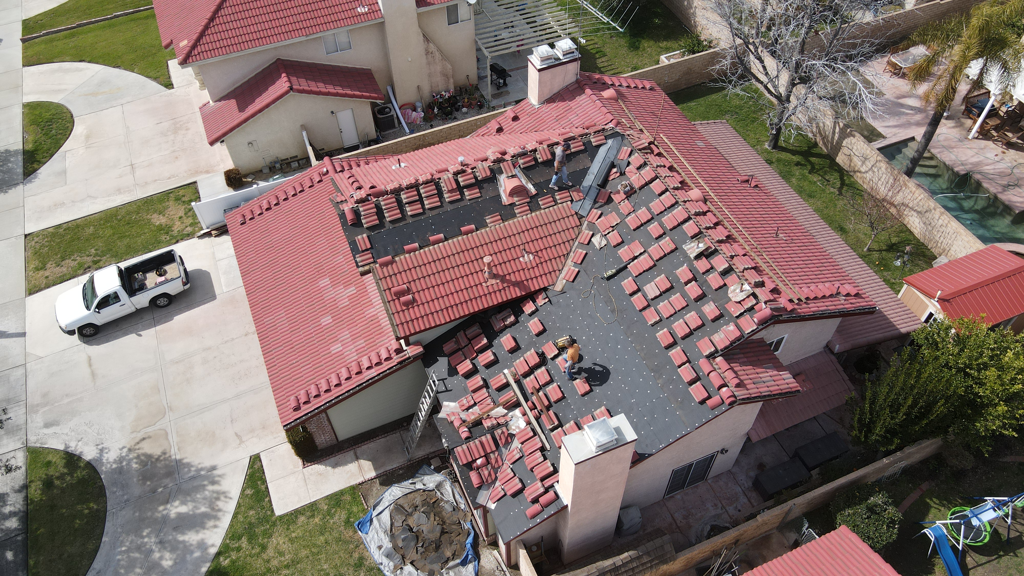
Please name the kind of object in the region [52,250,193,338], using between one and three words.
truck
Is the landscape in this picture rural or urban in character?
urban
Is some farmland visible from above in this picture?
No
